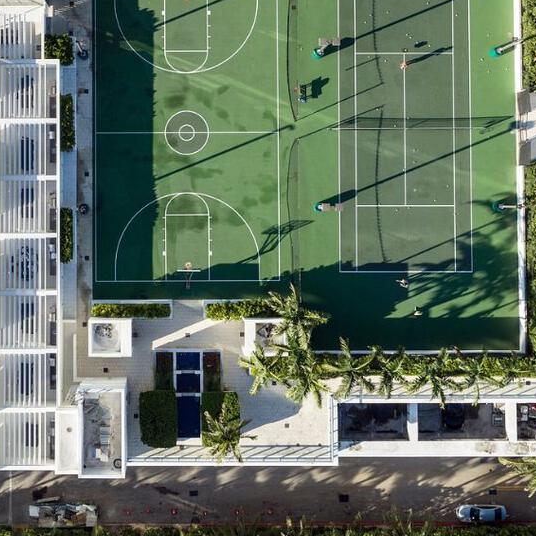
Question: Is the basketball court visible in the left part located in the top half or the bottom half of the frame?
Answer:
top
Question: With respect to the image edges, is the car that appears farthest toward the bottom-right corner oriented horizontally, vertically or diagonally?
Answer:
horizontally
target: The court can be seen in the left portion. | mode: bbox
[92,0,297,300]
